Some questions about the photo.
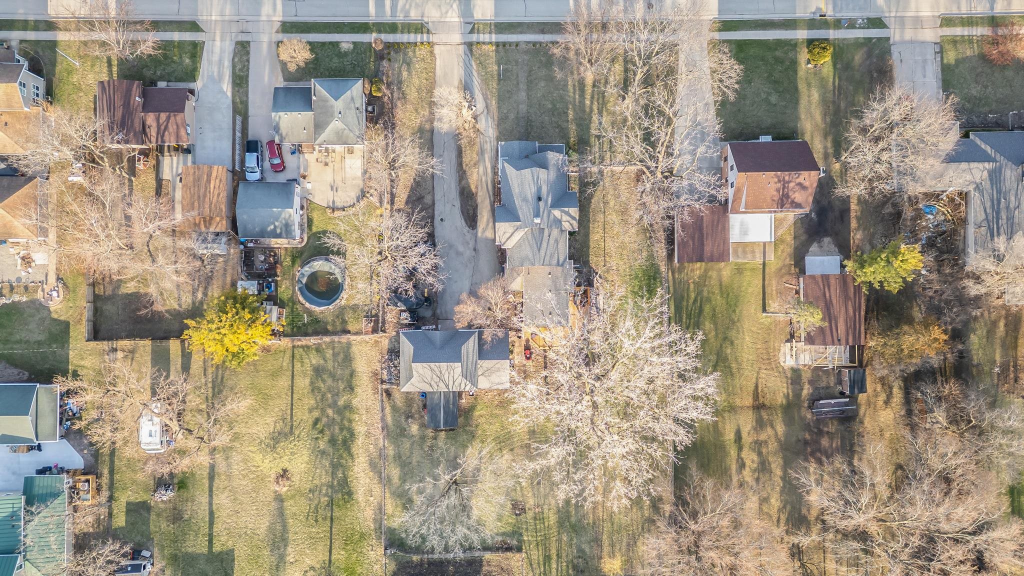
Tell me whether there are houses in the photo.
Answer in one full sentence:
Yes, the picture does show a house.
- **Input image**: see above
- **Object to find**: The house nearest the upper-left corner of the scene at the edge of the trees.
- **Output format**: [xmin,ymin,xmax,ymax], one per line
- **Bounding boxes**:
[0,47,61,155]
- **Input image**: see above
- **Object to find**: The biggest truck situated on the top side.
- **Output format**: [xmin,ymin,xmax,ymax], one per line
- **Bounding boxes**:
[240,140,262,181]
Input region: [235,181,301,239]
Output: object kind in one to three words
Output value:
building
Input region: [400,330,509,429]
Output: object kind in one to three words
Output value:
building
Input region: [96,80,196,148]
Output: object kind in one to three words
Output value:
house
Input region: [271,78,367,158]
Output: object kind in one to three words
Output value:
house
